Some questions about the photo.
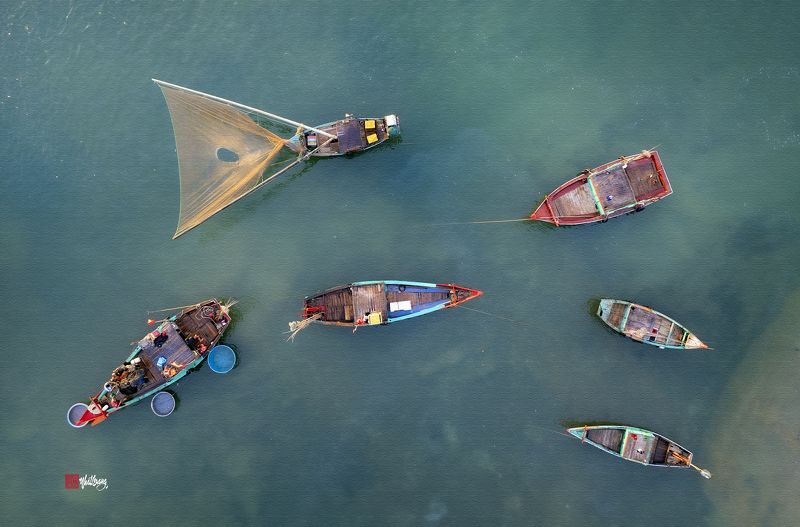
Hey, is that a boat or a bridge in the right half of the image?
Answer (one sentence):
Looking in the right half of the image, you will find a boat.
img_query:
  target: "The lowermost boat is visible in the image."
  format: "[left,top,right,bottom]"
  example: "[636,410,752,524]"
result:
[567,424,694,468]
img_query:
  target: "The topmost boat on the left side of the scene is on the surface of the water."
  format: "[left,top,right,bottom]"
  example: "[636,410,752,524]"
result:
[152,78,400,239]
